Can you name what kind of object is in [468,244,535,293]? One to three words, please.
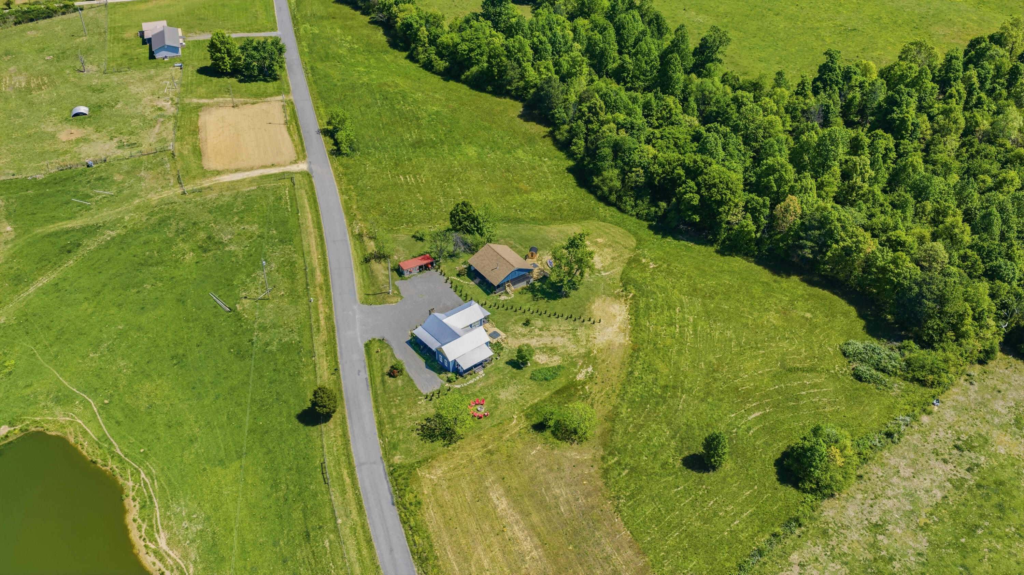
house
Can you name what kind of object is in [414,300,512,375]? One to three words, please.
house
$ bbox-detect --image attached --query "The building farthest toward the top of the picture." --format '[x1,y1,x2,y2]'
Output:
[140,20,186,59]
